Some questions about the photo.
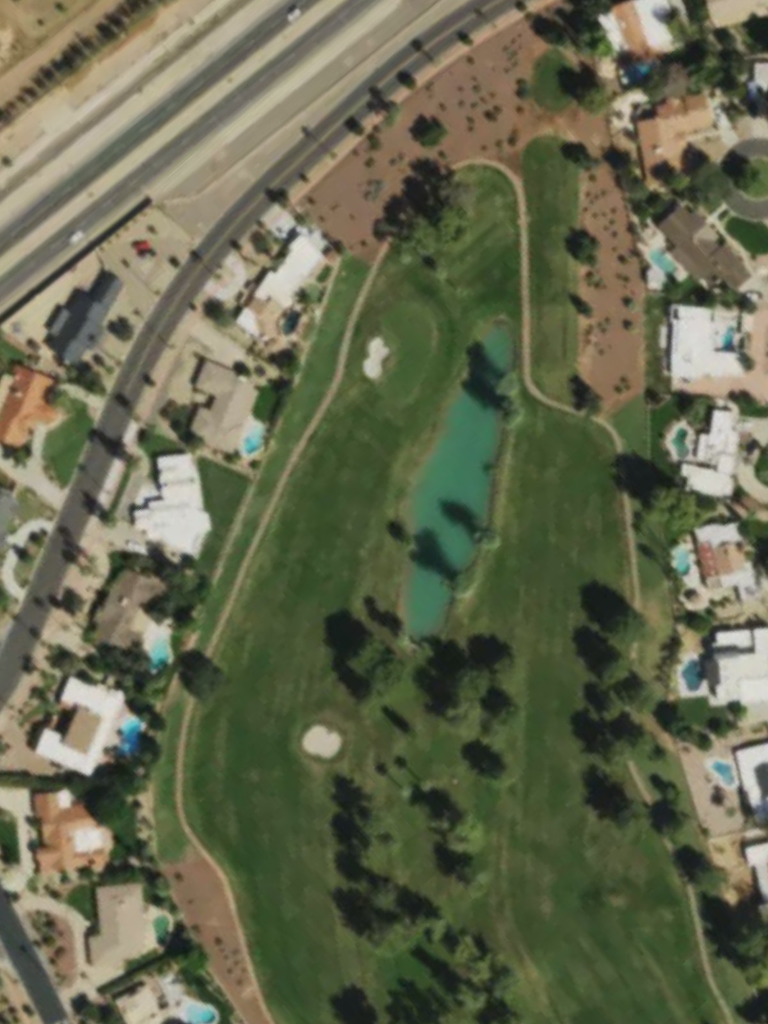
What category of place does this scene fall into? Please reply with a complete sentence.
The picture captures a golf course.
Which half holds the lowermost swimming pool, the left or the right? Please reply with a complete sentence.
The lowermost swimming pool sits on the left side.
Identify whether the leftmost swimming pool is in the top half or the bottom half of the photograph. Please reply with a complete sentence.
It is in the bottom half that the leftmost swimming pool appears.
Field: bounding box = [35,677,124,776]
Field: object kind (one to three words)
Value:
house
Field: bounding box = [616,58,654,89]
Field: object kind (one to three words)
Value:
swimming pool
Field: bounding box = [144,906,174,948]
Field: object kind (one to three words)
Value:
swimming pool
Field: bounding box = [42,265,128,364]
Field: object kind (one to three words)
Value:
house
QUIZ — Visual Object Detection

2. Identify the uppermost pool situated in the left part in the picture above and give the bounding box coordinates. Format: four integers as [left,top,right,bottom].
[280,307,302,339]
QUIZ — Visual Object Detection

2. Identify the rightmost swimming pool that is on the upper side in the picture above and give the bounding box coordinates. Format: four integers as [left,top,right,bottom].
[720,327,737,351]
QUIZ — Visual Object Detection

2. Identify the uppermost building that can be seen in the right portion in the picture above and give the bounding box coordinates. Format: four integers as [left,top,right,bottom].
[603,0,684,58]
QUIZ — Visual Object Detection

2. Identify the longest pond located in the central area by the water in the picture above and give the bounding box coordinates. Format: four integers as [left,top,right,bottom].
[407,326,512,636]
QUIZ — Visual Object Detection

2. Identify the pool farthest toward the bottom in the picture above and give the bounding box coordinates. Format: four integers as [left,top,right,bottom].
[178,997,221,1024]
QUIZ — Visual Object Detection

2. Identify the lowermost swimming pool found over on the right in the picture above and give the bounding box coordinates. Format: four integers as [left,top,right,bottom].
[707,756,737,788]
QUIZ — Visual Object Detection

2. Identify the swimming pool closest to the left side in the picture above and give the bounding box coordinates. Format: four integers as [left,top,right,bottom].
[106,712,141,755]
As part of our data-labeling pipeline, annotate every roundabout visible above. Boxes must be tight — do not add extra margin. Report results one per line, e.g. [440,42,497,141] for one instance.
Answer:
[719,138,768,220]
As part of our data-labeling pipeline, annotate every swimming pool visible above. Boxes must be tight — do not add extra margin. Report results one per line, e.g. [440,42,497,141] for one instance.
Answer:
[241,418,264,454]
[143,622,174,667]
[280,307,302,339]
[720,327,737,351]
[664,420,698,463]
[144,906,174,948]
[639,225,688,289]
[678,650,712,698]
[616,58,654,89]
[707,756,737,788]
[671,540,709,613]
[178,997,221,1024]
[106,712,141,755]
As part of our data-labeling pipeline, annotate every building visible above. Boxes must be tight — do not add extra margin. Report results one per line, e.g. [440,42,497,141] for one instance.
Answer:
[695,523,756,601]
[706,628,768,706]
[0,363,60,449]
[682,409,739,497]
[672,306,744,382]
[31,789,115,873]
[655,196,759,290]
[91,571,165,644]
[42,265,128,364]
[237,225,327,336]
[603,0,684,58]
[133,453,211,559]
[35,677,124,776]
[746,843,768,897]
[755,61,768,114]
[189,357,260,454]
[639,97,719,181]
[0,487,23,543]
[736,744,768,809]
[86,884,144,967]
